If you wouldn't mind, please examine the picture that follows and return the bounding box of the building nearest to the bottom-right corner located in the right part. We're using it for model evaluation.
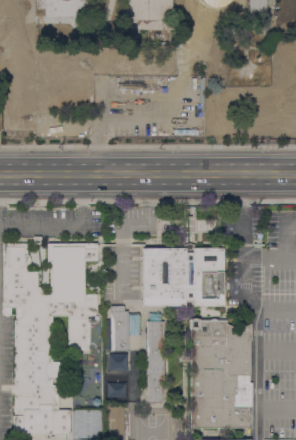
[188,319,252,426]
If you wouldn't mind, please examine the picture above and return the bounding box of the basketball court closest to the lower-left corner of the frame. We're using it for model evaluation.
[74,410,102,440]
